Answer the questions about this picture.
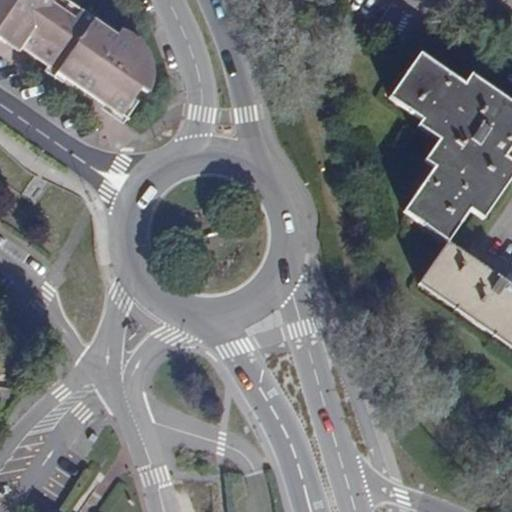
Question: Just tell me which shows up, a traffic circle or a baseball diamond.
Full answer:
It is a traffic circle that can be seen here.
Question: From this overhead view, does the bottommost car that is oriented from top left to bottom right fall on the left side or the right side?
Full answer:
The bottommost car that is oriented from top left to bottom right is on the left side of the image.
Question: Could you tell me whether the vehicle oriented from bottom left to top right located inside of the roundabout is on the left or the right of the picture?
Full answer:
You can find the vehicle oriented from bottom left to top right located inside of the roundabout on the left side of the picture.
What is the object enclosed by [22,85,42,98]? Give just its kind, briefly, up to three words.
vehicle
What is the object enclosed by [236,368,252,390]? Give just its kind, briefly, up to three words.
car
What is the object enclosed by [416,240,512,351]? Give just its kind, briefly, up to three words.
building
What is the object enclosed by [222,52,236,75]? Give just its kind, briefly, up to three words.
car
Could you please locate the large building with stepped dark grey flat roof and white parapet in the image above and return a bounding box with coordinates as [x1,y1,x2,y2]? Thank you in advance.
[386,51,512,242]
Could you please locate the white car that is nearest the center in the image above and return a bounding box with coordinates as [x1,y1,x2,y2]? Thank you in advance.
[282,212,295,233]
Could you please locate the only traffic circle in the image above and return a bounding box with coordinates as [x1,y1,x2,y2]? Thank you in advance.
[108,135,320,344]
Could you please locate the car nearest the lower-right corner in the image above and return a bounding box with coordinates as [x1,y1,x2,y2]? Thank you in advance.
[319,410,334,432]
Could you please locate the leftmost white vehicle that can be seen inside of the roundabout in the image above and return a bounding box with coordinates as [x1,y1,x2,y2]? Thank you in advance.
[137,183,158,208]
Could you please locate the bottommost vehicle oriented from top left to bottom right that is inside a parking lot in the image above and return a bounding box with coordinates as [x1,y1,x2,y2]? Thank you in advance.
[60,457,83,476]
